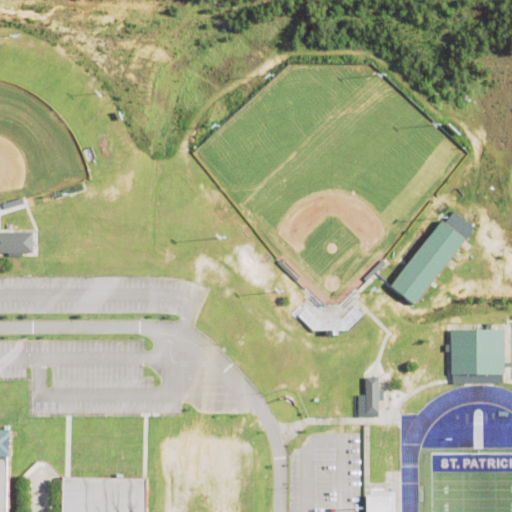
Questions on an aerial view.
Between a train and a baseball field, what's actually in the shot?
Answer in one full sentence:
There is a baseball field in the scene.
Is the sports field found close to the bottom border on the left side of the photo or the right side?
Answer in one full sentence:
It is on the right.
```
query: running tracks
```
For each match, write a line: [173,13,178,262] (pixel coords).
[402,386,512,512]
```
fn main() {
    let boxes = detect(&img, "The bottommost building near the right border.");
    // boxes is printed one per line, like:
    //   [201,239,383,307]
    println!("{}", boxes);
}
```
[451,330,504,384]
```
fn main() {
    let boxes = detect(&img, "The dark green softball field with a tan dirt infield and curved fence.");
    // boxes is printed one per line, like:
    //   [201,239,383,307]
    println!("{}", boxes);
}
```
[0,82,86,204]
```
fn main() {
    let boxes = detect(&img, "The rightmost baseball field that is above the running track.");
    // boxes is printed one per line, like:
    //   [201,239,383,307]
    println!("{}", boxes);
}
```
[197,66,466,304]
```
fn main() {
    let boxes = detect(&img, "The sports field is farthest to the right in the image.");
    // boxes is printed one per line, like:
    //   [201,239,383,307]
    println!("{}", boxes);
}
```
[420,448,512,512]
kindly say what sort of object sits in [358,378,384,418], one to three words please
building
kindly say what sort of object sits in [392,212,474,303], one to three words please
barn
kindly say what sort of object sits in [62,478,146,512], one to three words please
building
